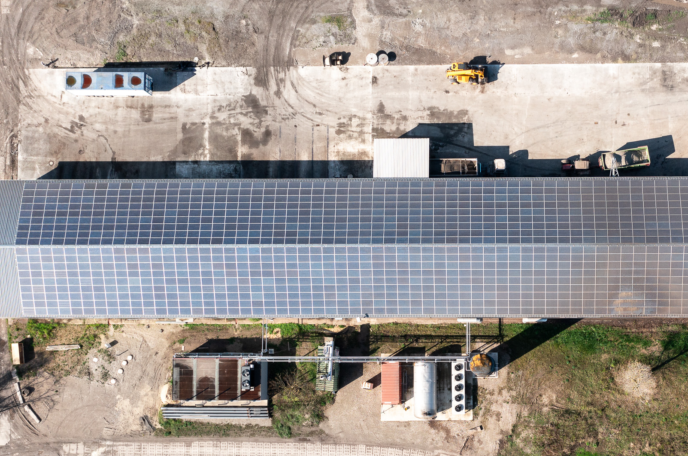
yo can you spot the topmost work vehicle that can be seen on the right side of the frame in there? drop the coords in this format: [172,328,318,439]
[445,61,489,85]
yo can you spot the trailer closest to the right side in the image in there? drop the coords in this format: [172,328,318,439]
[589,145,652,174]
